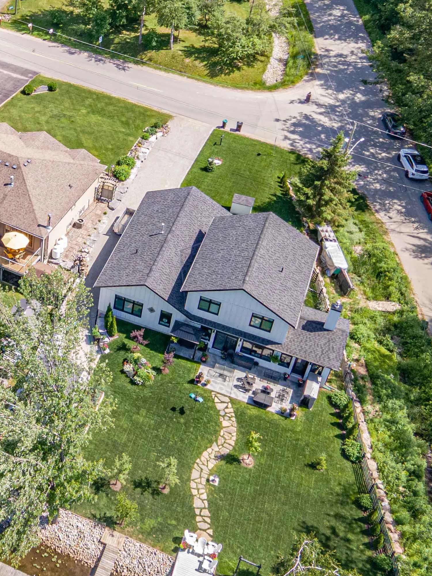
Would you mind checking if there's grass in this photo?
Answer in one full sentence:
Yes, some grass is visible.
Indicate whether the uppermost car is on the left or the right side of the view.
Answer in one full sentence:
The uppermost car is on the right side of the image.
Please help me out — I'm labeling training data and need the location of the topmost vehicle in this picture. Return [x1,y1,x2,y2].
[378,112,414,139]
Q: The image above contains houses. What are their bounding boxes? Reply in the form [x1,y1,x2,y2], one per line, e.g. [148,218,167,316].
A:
[93,187,354,397]
[0,123,102,263]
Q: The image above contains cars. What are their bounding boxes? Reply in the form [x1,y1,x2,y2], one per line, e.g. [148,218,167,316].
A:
[396,147,432,180]
[418,189,432,220]
[378,112,414,139]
